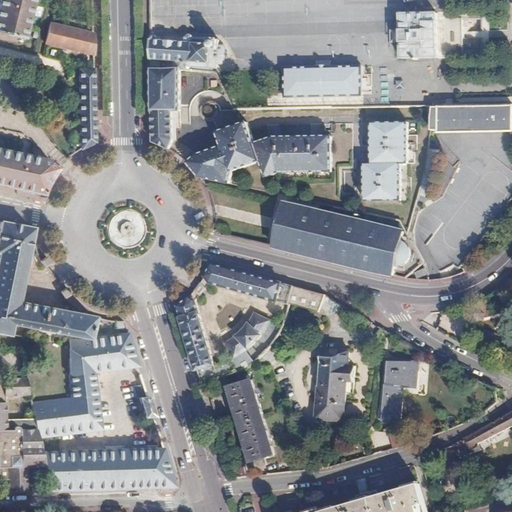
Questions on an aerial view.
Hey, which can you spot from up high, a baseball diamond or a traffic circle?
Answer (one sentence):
Of the two, only a traffic circle appears.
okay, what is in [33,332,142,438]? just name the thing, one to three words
house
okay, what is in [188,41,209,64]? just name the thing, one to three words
building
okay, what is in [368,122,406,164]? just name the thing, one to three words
building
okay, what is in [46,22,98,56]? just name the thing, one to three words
barn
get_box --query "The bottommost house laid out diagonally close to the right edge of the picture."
[463,410,512,448]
